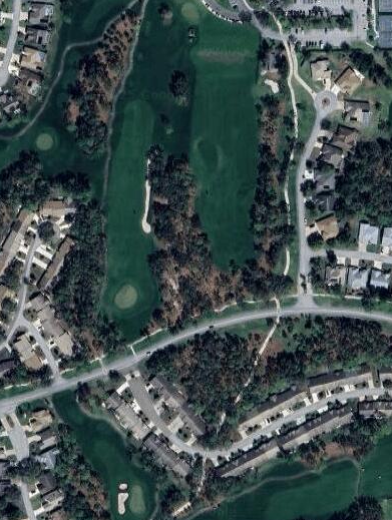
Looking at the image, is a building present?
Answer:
Yes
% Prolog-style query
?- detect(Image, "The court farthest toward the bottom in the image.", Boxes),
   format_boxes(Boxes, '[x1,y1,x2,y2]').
[378,16,392,49]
